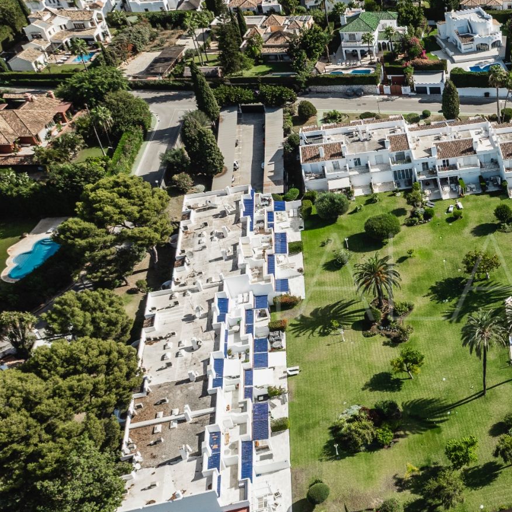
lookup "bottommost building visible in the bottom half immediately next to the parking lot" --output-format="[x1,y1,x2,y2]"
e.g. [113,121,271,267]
[117,184,303,512]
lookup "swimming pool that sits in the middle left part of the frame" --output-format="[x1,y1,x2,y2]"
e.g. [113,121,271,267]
[2,229,66,280]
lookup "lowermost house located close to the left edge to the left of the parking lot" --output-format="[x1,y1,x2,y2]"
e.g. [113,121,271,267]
[0,88,92,174]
